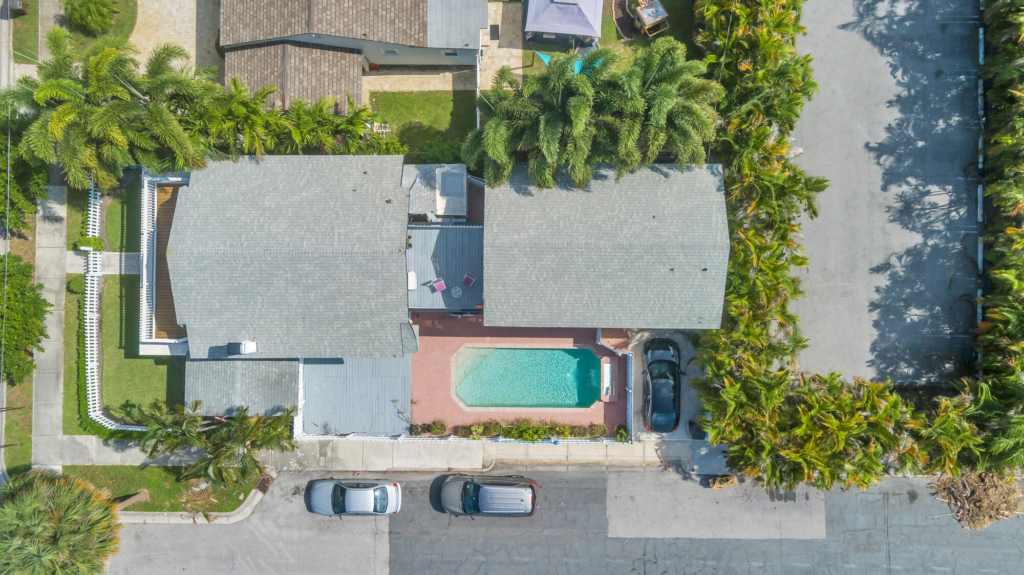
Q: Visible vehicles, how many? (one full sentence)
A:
There are 3 vehicles in the image.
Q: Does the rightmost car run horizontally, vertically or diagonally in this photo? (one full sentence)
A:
From this overhead view, the rightmost car appears to run vertically.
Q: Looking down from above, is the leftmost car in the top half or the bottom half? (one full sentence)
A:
Seen from above, the leftmost car lies in the bottom half of the view.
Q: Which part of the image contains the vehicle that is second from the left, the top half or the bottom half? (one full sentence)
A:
You can find the vehicle that is second from the left in the bottom half.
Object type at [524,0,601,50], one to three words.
gazebo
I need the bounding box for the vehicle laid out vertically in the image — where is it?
[641,337,683,434]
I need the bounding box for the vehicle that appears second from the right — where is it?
[440,470,538,517]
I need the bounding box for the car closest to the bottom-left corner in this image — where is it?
[311,475,403,518]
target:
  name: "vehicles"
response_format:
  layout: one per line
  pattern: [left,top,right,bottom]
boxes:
[311,475,403,518]
[440,470,538,517]
[641,337,683,434]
